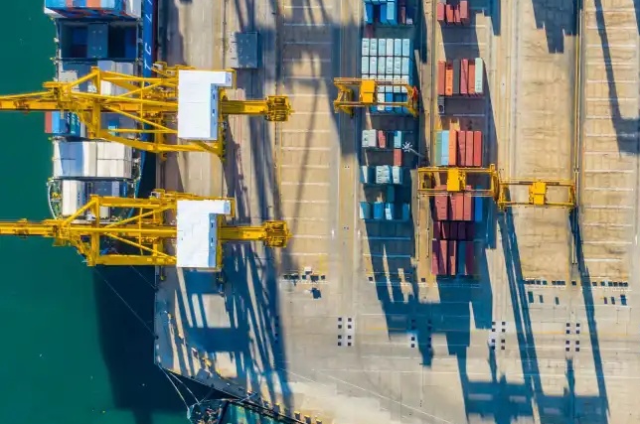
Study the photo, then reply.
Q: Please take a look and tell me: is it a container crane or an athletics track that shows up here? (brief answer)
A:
container crane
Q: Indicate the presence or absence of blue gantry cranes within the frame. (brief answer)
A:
No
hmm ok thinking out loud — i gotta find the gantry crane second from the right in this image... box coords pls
[417,164,502,200]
